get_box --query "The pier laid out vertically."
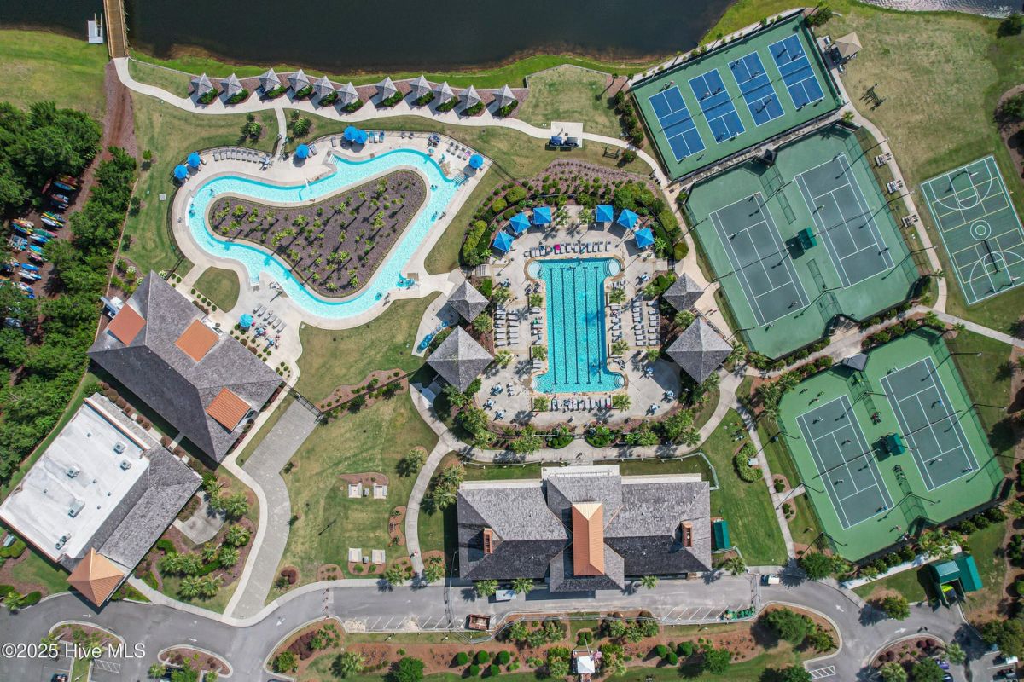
[88,10,104,45]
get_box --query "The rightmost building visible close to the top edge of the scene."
[829,31,863,63]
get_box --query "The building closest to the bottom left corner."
[0,393,206,570]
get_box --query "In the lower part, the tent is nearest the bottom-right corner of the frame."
[577,655,595,674]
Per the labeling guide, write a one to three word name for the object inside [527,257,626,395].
swimming pool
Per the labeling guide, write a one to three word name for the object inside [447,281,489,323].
building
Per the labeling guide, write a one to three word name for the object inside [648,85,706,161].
sports court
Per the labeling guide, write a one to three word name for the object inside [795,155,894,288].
tennis court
